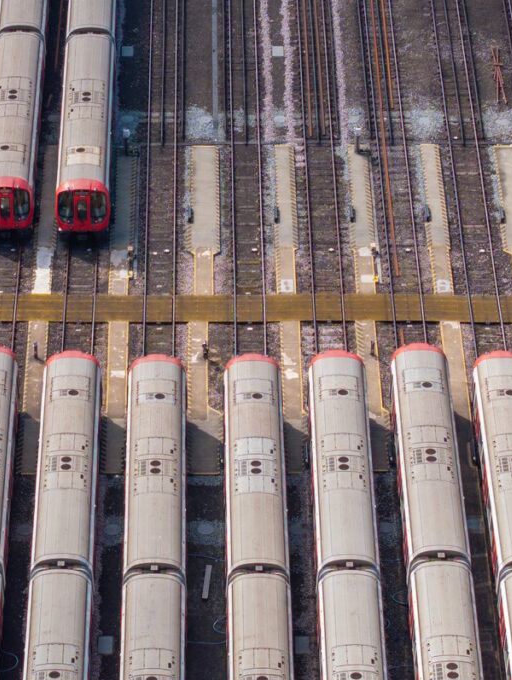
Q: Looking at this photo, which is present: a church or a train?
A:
train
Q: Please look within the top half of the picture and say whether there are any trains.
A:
Yes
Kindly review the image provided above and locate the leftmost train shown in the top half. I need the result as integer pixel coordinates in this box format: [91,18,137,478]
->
[0,0,51,241]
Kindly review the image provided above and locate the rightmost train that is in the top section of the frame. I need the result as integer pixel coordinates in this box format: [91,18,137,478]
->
[55,0,119,244]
